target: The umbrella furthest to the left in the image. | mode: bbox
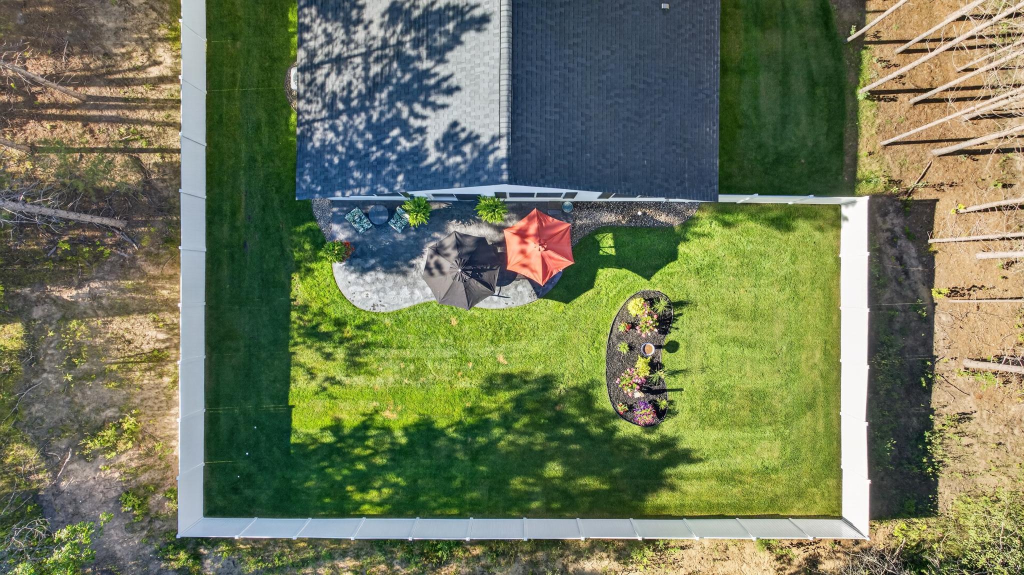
[423,231,500,309]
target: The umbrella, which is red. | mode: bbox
[504,208,574,286]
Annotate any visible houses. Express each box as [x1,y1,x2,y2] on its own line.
[295,0,722,204]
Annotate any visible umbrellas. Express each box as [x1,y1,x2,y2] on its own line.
[423,231,500,309]
[504,208,574,286]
